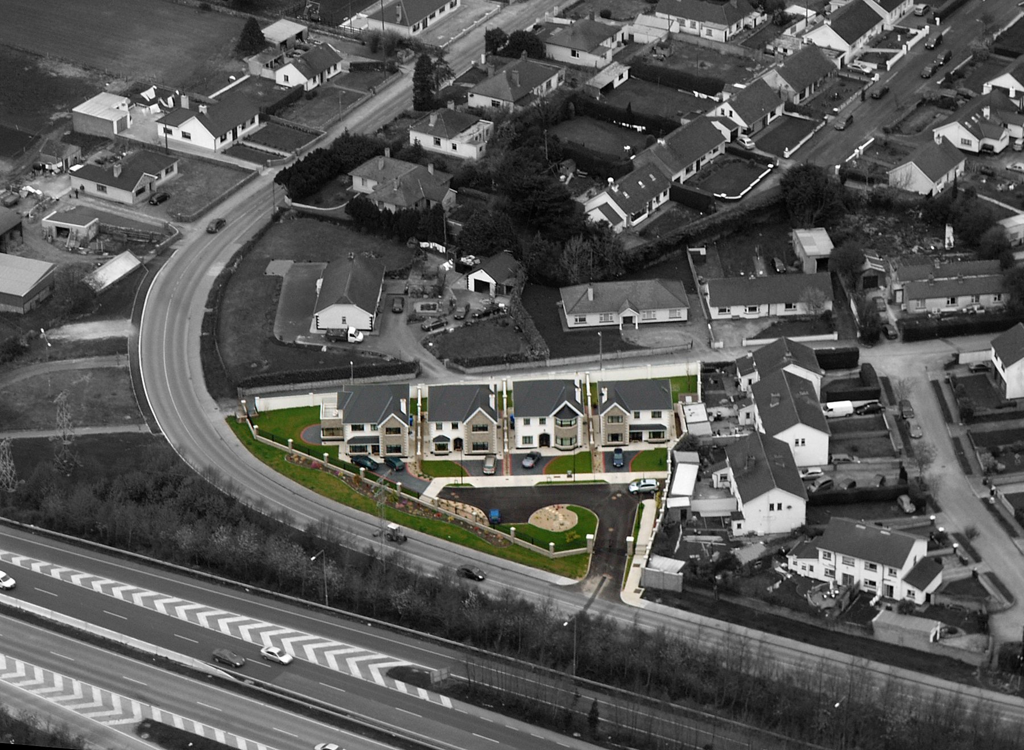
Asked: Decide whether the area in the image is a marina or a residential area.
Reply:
residential area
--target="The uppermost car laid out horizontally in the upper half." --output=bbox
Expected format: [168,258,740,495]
[847,62,873,75]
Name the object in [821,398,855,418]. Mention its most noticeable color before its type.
white vehicle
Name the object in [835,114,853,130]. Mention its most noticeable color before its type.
gray car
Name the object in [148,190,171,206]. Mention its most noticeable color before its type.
black car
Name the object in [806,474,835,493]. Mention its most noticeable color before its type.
gray car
